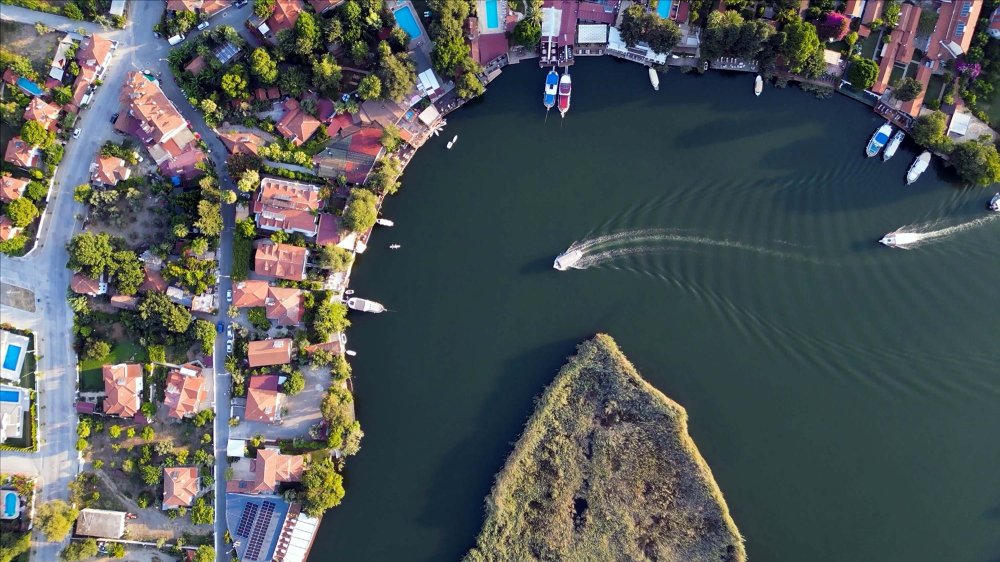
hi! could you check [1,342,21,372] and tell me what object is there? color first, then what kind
blue swimming pool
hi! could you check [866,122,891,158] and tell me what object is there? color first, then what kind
blue boat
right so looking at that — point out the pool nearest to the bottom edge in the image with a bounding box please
[2,490,20,520]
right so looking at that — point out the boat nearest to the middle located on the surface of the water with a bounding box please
[552,248,586,269]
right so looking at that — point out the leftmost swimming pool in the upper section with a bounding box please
[17,77,45,97]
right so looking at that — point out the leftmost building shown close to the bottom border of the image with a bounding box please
[75,507,130,540]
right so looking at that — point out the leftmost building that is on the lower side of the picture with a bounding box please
[0,398,32,439]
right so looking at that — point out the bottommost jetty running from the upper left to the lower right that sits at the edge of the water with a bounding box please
[874,103,916,134]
